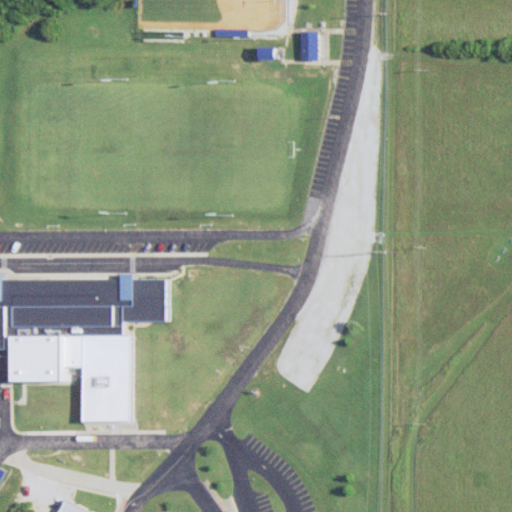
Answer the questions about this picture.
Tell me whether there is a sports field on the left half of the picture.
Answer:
Yes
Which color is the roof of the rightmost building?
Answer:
blue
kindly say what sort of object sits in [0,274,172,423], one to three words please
building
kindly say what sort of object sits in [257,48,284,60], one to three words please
building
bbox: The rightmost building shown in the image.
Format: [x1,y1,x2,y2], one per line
[301,32,322,61]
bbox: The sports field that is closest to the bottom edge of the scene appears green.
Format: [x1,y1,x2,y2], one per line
[31,82,290,213]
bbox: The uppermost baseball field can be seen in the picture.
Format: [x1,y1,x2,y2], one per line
[138,0,298,38]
